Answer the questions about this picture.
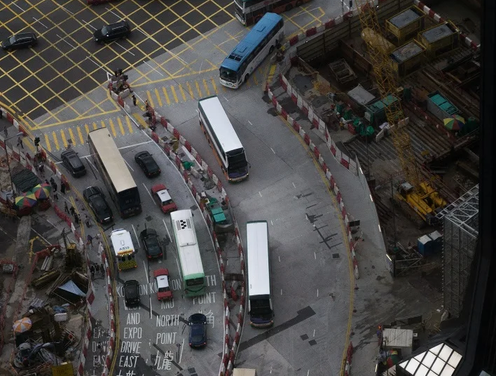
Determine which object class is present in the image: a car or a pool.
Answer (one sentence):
Visible in the photo is a car.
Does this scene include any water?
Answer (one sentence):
No, there is no water in the image.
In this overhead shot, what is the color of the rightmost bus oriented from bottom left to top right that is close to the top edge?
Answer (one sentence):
In this view, the rightmost bus oriented from bottom left to top right that is close to the top edge is blue.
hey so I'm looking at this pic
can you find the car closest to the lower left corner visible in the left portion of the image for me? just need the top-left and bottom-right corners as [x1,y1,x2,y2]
[122,278,140,306]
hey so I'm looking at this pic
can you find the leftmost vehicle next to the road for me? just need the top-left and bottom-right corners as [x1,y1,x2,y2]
[2,31,35,49]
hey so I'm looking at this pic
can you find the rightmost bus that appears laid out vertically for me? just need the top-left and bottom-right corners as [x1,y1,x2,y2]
[246,221,274,315]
